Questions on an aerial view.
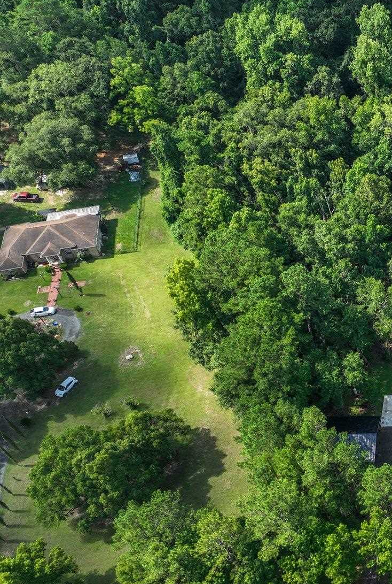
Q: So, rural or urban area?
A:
rural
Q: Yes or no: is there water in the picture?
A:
No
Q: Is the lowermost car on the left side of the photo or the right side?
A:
left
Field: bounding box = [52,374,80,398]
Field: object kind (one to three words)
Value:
car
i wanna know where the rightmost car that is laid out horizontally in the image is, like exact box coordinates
[29,306,57,319]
